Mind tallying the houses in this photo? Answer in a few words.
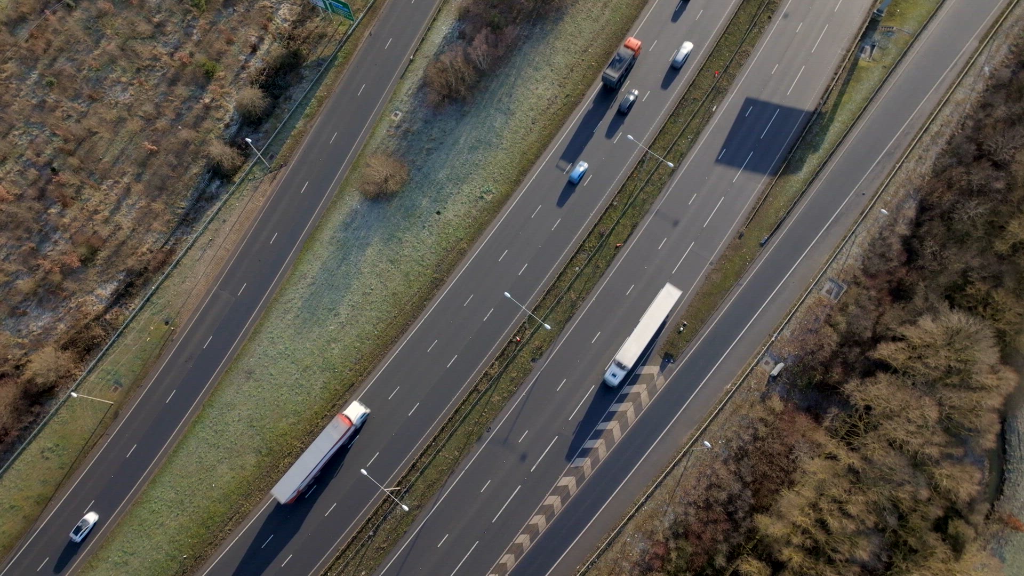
0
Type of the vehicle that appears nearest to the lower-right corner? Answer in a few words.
truck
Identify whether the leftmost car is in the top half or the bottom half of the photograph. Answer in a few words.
bottom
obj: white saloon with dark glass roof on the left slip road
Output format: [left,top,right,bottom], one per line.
[70,511,100,545]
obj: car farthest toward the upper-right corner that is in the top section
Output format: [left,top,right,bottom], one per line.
[671,44,693,70]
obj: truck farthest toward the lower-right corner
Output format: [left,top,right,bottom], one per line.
[601,283,682,388]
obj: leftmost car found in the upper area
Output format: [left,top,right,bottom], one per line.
[569,161,588,185]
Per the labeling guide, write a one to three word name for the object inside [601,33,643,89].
truck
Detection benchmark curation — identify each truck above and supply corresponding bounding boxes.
[601,283,682,388]
[601,33,643,89]
[272,396,371,502]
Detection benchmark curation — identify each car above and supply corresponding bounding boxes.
[618,89,639,115]
[70,511,100,545]
[569,161,588,185]
[671,44,693,70]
